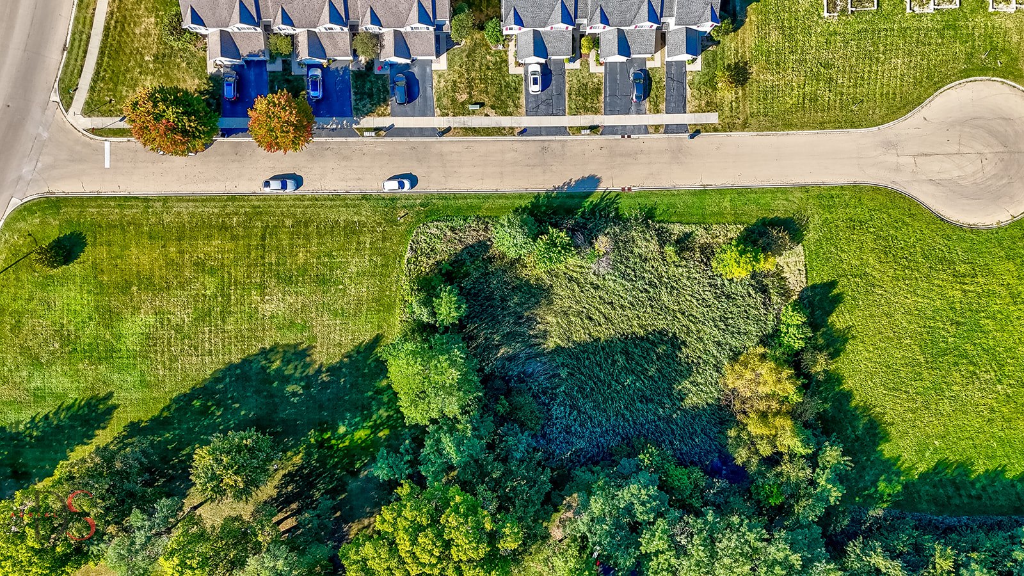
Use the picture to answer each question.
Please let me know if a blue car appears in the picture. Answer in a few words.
Yes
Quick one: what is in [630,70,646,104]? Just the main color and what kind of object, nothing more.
blue car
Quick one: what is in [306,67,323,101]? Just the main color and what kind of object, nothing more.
blue car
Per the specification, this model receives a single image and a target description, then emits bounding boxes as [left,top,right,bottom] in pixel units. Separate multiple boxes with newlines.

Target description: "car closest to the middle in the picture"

[383,177,411,192]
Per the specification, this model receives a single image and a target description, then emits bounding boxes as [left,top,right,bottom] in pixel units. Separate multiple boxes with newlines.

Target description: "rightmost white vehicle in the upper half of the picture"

[527,63,543,96]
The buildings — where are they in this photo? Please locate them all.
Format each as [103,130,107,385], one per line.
[502,0,722,65]
[178,0,454,65]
